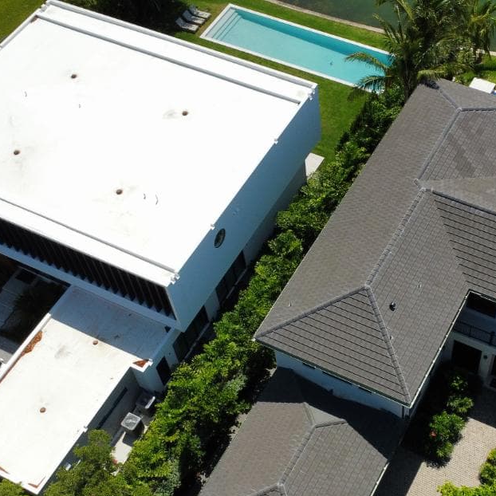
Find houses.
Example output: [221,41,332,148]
[254,73,496,444]
[0,0,320,351]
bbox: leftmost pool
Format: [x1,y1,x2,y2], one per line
[206,7,388,89]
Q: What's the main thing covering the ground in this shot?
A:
buildings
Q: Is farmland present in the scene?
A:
No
